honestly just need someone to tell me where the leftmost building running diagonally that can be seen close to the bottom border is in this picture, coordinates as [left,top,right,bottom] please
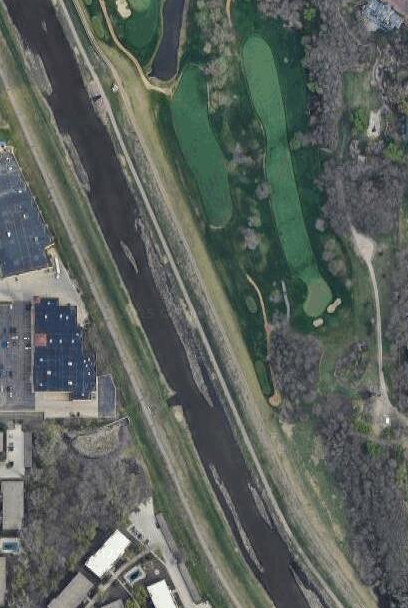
[48,573,93,608]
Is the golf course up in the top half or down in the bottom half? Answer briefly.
top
